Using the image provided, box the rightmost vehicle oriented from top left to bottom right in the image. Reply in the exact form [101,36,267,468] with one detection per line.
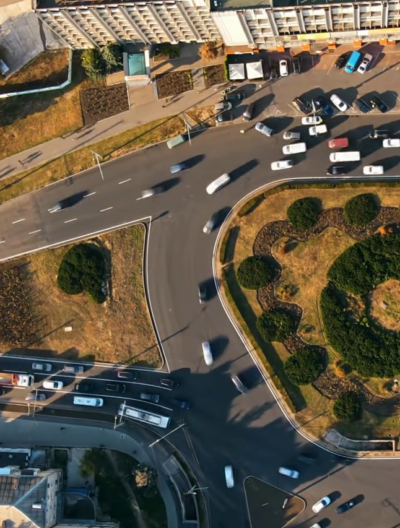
[370,95,388,114]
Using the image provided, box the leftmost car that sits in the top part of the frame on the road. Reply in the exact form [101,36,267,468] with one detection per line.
[49,201,67,214]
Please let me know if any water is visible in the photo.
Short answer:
No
